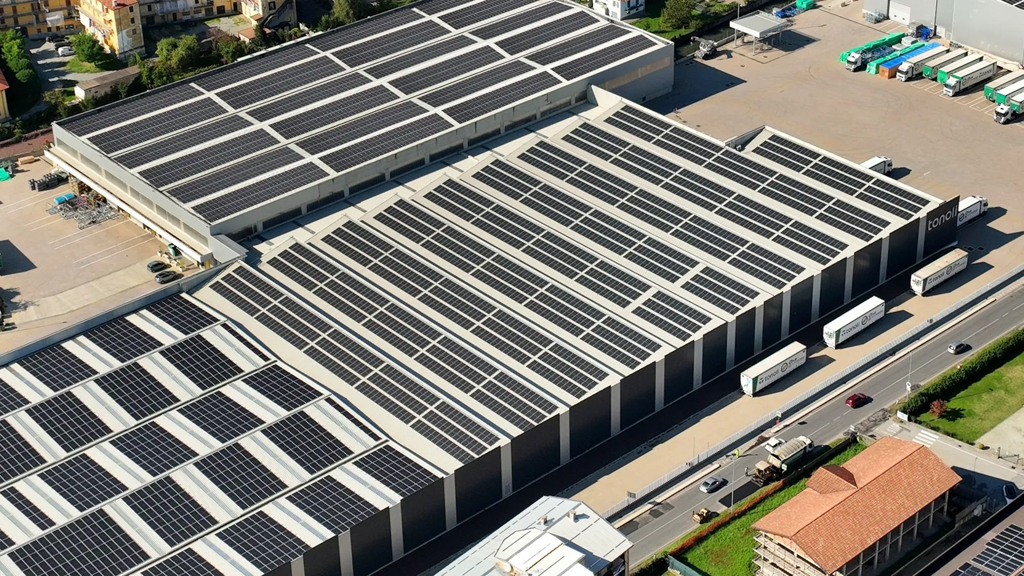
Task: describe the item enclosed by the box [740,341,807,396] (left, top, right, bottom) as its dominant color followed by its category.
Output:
white trailer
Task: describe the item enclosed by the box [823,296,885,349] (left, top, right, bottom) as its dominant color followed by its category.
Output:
white trailer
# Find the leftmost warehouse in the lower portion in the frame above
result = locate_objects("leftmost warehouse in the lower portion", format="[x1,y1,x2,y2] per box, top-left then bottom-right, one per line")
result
[0,292,451,576]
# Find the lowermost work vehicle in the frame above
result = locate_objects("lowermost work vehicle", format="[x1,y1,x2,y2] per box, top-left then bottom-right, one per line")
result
[694,505,714,524]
